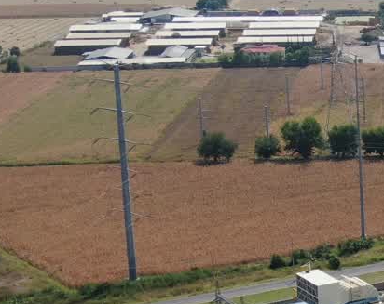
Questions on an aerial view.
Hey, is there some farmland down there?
Yes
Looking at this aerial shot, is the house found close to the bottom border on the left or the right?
right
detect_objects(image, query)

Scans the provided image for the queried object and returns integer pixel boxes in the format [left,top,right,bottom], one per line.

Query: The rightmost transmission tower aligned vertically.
[350,97,364,134]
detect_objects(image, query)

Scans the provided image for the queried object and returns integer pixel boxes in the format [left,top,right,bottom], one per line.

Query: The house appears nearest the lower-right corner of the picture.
[296,268,380,304]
